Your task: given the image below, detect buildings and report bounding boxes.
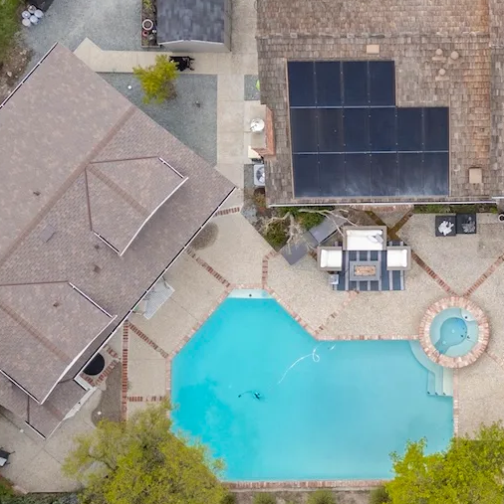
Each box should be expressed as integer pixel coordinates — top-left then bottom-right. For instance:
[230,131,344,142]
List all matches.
[156,0,232,53]
[243,0,504,206]
[0,42,237,439]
